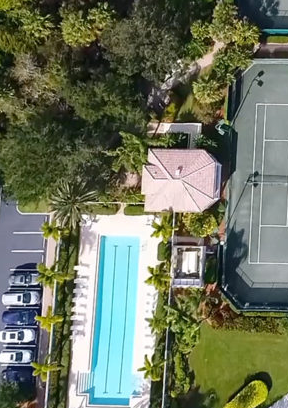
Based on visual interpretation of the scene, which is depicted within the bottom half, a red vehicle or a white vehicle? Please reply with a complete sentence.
The feature located within the bottom half is a white vehicle.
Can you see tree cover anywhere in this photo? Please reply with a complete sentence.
Yes, tree cover can be seen from above here.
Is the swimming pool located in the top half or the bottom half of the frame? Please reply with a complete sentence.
The bottom half of the photo is where the swimming pool is.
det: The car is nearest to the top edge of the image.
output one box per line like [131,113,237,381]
[6,273,41,289]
